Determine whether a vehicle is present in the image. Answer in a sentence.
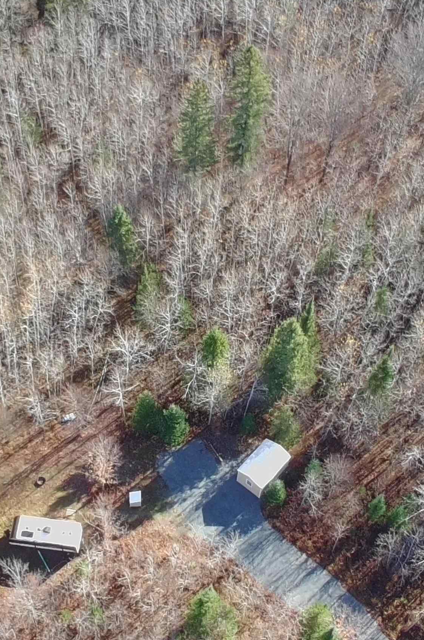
Yes, the photo shows a vehicle.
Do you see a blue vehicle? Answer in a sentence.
No, there's no blue vehicle here.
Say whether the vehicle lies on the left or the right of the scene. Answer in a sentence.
The vehicle is on the left side of the image.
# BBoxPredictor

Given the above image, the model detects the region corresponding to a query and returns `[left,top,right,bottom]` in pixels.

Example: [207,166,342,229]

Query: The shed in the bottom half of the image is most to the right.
[235,440,291,499]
